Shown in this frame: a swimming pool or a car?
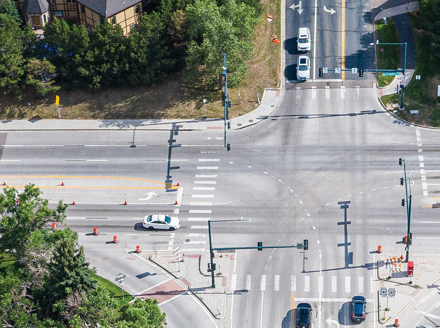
car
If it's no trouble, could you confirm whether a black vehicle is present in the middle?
No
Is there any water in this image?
No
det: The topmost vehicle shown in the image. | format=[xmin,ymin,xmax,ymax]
[297,29,311,51]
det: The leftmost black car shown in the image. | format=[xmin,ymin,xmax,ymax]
[295,303,314,328]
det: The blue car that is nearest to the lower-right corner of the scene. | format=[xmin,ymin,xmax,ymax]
[351,296,368,323]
